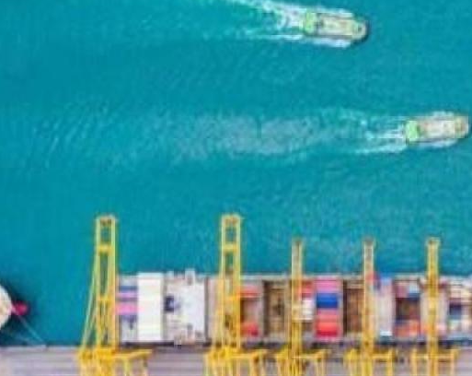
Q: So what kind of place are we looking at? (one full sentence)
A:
The picture captures a port.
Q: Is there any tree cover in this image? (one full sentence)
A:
No, the picture contains no tree cover.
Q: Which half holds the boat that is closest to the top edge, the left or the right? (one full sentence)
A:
It is on the right.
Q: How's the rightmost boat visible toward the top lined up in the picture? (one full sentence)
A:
What the image shows is the rightmost boat visible toward the top lying from left to right.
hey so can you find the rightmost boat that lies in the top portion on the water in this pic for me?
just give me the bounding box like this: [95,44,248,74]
[405,113,471,143]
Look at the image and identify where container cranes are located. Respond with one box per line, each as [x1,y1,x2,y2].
[348,239,396,376]
[78,216,155,376]
[275,239,329,376]
[206,216,271,376]
[409,239,457,376]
